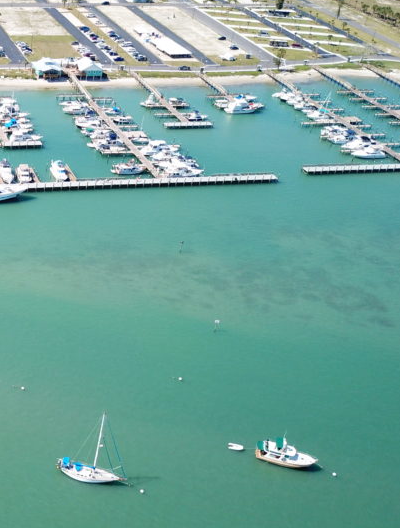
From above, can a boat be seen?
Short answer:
Yes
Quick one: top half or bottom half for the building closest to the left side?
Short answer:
top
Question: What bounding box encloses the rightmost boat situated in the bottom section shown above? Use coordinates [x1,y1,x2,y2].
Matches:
[254,434,330,472]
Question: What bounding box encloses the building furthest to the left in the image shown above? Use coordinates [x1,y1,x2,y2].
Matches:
[28,59,67,80]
